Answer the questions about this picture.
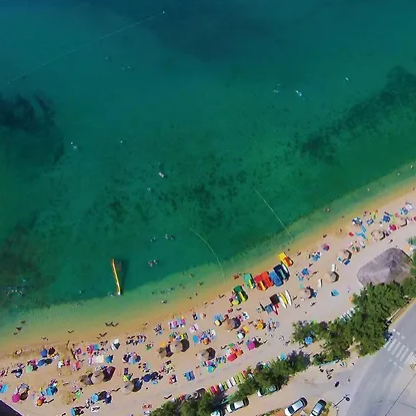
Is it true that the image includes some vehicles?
Yes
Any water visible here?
Yes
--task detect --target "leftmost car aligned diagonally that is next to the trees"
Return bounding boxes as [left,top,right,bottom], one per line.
[226,396,250,415]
